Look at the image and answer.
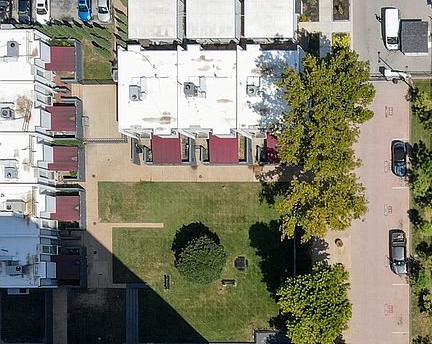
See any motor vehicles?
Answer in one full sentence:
Yes, I can see a motor vehicle in this picture.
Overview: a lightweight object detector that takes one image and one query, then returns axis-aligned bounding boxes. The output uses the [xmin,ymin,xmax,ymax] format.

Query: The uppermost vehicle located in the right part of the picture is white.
[382,4,399,52]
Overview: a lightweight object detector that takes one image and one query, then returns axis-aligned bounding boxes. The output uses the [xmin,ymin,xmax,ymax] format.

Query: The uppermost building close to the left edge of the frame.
[0,28,82,89]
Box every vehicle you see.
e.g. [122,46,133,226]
[386,67,407,81]
[392,140,408,176]
[390,232,407,274]
[0,0,15,26]
[382,4,399,52]
[96,0,112,23]
[15,0,34,26]
[34,0,52,25]
[76,0,94,23]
